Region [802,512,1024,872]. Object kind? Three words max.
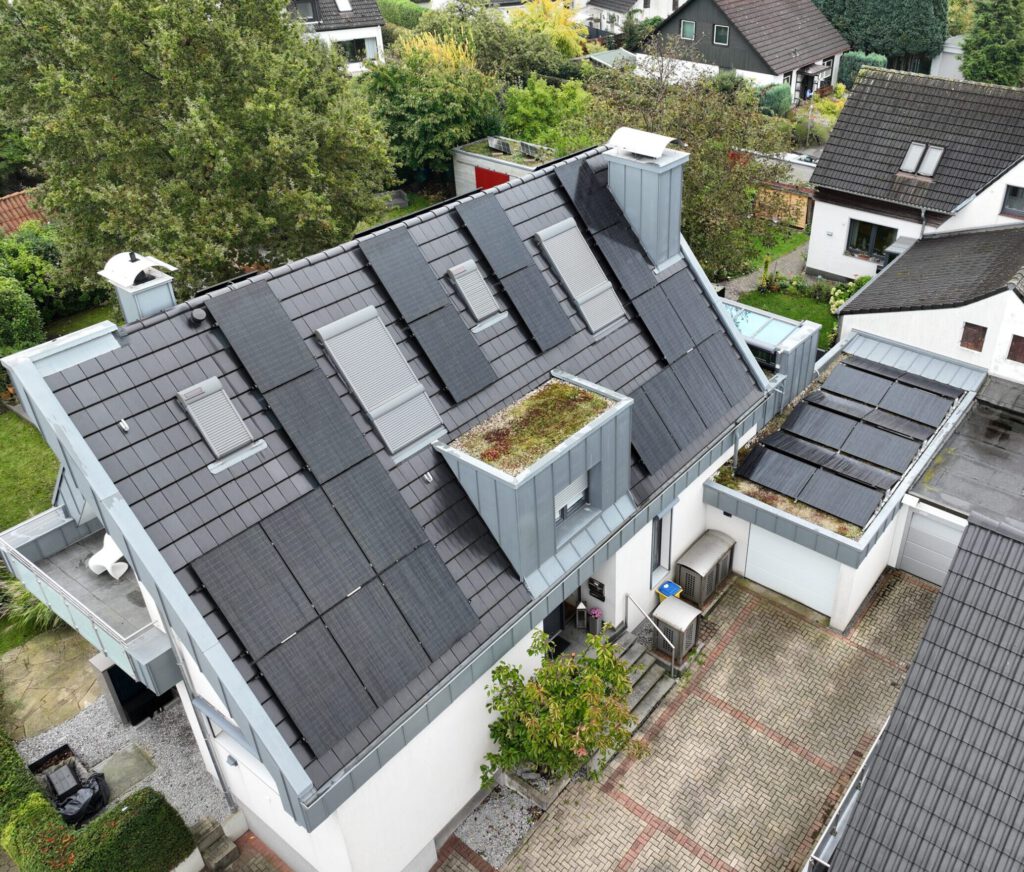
house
